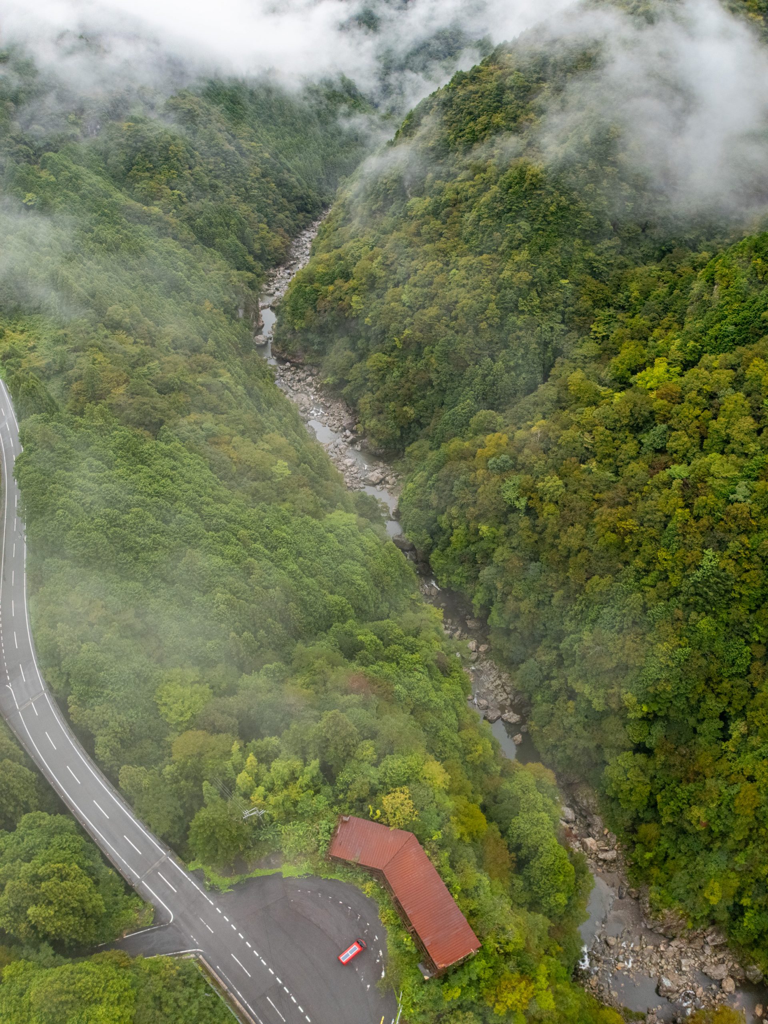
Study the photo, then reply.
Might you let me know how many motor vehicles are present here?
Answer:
1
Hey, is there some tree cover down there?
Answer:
Yes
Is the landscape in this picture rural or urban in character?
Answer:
rural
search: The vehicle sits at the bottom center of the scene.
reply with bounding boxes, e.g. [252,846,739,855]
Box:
[339,938,367,967]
